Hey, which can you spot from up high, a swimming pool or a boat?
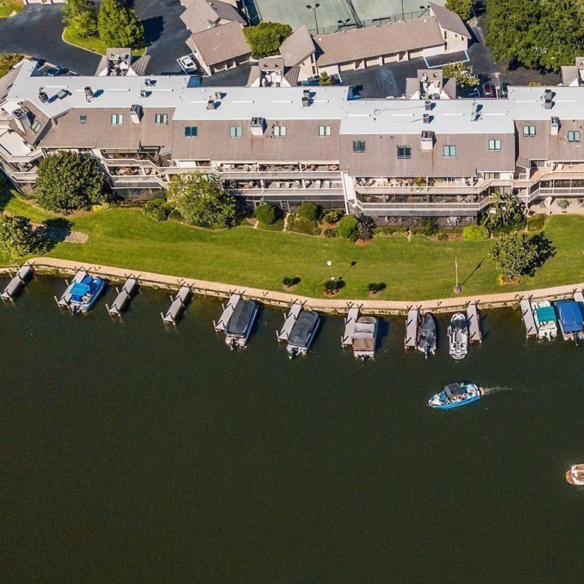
boat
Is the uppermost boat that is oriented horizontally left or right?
right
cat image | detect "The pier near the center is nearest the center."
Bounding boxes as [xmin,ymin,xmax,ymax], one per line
[275,301,305,343]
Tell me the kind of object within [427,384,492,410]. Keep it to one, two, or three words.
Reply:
boat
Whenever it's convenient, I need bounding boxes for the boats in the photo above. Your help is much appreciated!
[447,310,468,363]
[287,309,322,360]
[70,274,104,314]
[533,297,556,342]
[563,462,584,485]
[418,310,437,355]
[353,314,377,363]
[554,296,583,345]
[226,296,259,350]
[427,384,492,410]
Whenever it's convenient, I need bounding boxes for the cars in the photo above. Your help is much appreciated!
[178,53,195,69]
[499,73,513,95]
[41,61,67,73]
[482,76,494,94]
